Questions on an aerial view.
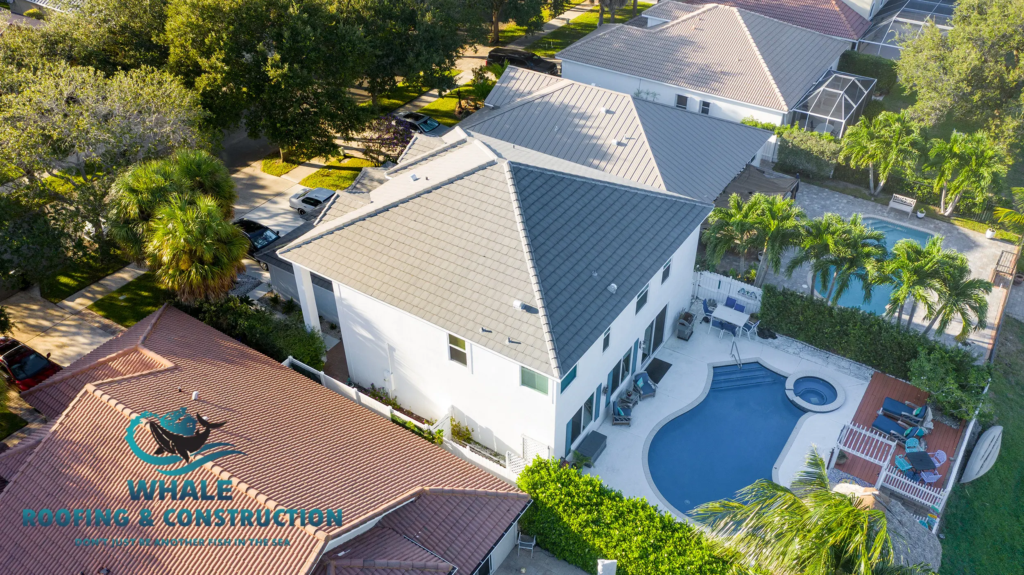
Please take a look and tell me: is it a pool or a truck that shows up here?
pool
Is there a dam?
No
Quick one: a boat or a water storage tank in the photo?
boat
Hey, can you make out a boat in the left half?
No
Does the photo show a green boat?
No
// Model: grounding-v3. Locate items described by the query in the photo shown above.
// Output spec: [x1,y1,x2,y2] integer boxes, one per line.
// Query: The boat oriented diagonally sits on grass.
[962,424,1010,485]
